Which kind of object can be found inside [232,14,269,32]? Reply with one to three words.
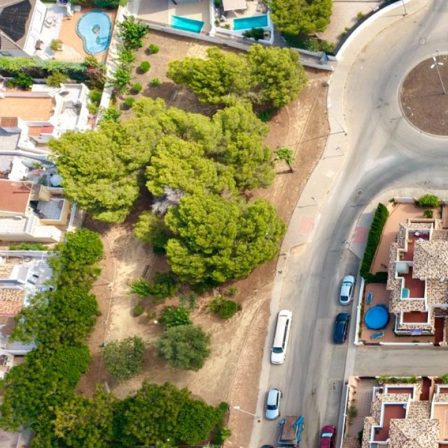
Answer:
swimming pool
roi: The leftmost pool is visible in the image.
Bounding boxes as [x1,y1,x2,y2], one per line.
[75,8,114,54]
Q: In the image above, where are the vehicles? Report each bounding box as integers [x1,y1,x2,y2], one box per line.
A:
[272,309,293,366]
[339,278,355,303]
[282,415,307,448]
[332,313,350,343]
[263,388,282,420]
[320,426,337,448]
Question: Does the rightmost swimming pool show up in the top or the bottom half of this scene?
bottom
